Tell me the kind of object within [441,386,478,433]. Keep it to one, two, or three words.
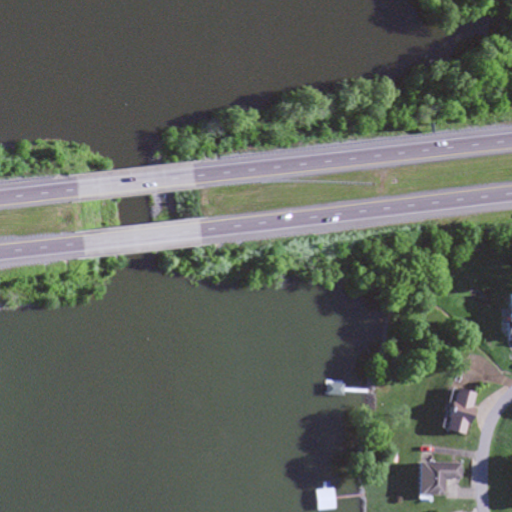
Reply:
house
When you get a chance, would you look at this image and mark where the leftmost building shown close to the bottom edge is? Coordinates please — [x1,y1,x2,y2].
[316,486,338,510]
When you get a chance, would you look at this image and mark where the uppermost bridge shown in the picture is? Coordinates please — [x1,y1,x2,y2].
[74,160,200,203]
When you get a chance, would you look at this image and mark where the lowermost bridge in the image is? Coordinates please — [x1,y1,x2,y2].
[79,216,206,260]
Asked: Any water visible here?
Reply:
Yes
